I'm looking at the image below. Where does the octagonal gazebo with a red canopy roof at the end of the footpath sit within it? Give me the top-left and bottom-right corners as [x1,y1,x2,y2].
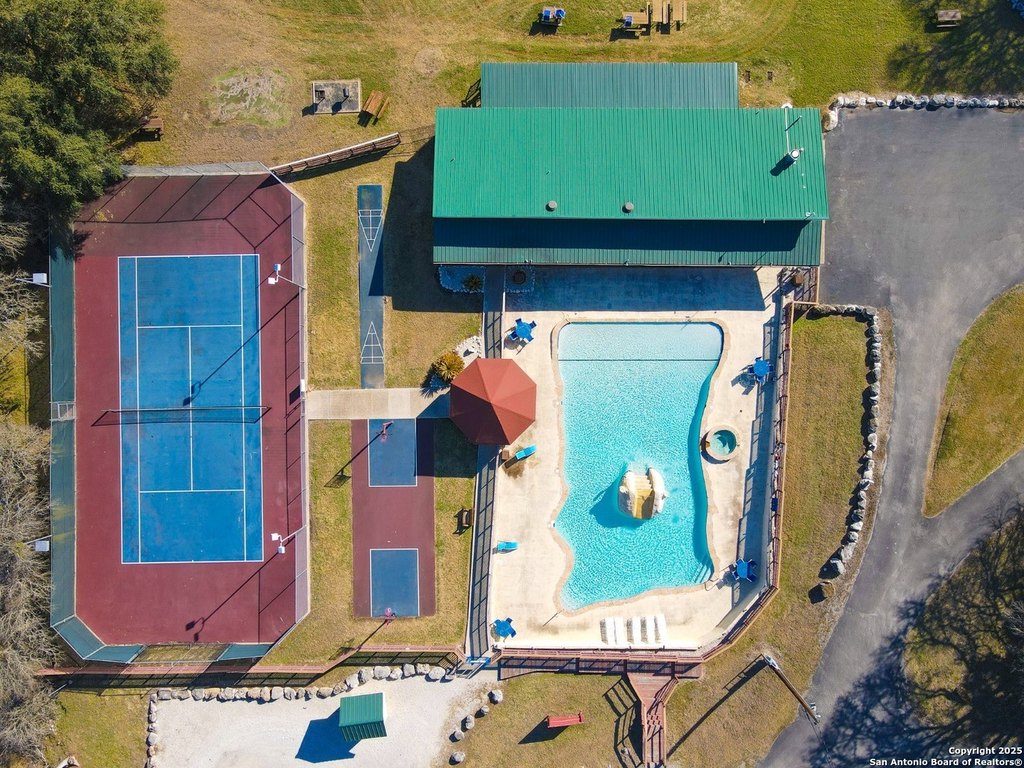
[450,359,536,444]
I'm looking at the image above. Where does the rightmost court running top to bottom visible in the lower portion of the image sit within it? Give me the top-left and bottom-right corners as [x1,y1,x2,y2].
[351,419,436,618]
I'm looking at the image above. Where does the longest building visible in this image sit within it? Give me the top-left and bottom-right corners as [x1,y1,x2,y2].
[432,63,829,273]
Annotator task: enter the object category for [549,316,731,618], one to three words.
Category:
swimming pool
